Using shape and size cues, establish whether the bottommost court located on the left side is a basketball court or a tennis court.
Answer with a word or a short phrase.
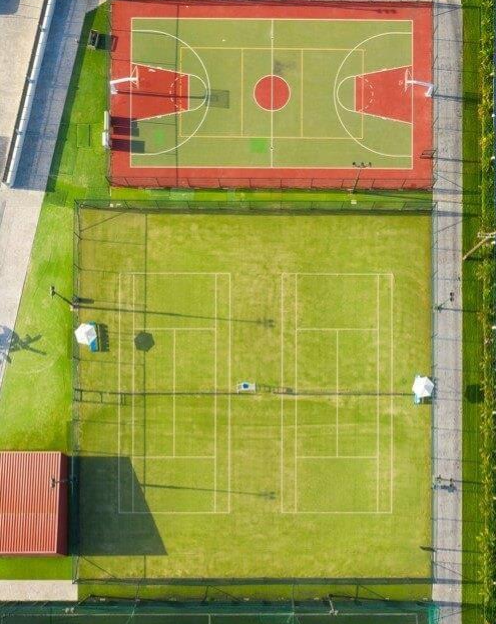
tennis court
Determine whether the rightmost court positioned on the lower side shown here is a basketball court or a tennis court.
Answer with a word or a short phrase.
tennis court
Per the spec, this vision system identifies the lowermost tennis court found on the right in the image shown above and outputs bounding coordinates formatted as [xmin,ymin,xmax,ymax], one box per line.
[282,273,392,513]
